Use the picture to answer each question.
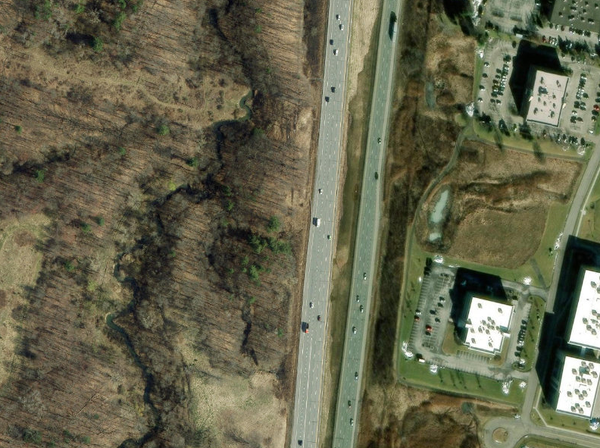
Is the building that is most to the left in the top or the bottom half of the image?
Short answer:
bottom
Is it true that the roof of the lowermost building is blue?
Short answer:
No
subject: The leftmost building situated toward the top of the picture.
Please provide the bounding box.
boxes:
[521,66,569,128]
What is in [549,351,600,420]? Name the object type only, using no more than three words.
building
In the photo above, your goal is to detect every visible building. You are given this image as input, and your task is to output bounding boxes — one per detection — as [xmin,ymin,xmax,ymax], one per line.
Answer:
[549,351,600,420]
[562,264,600,350]
[459,293,514,354]
[521,66,569,128]
[546,0,600,33]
